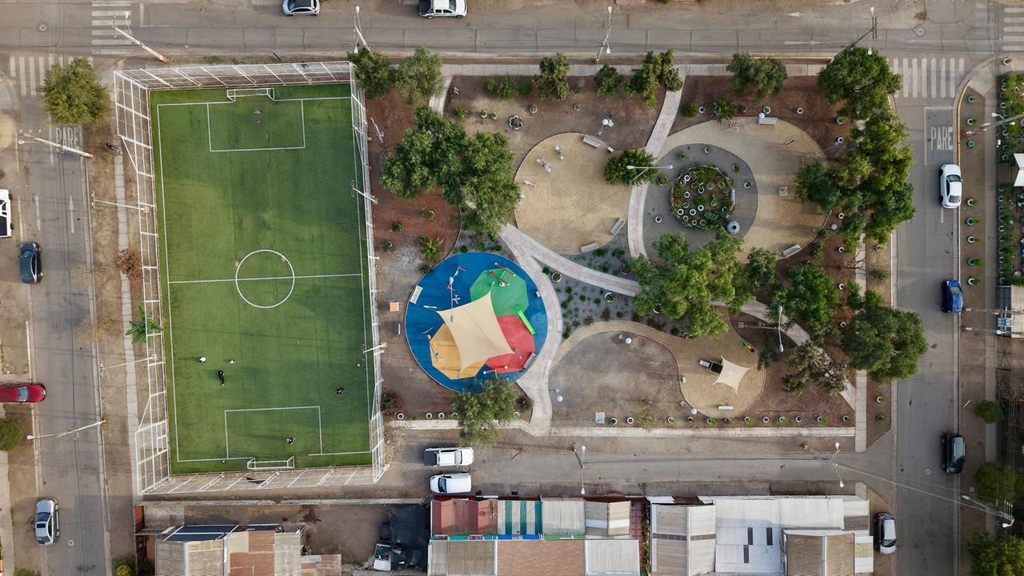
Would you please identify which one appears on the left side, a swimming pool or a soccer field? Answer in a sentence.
Looking on the left side, you will find a soccer field.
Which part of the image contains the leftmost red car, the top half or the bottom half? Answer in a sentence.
You can find the leftmost red car in the bottom half.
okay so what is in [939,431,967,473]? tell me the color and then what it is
black car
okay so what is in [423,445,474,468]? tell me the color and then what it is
white truck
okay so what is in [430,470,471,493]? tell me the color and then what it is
white vehicle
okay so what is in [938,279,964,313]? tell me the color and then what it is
blue car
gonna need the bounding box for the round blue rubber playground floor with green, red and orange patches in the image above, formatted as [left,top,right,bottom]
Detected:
[404,252,550,393]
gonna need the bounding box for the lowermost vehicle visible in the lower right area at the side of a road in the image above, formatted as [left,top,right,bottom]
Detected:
[869,509,896,552]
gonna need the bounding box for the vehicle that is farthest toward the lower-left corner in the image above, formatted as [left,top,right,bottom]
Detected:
[31,499,58,546]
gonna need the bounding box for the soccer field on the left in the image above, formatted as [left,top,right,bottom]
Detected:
[150,79,387,475]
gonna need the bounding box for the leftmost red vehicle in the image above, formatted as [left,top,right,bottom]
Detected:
[0,383,42,405]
